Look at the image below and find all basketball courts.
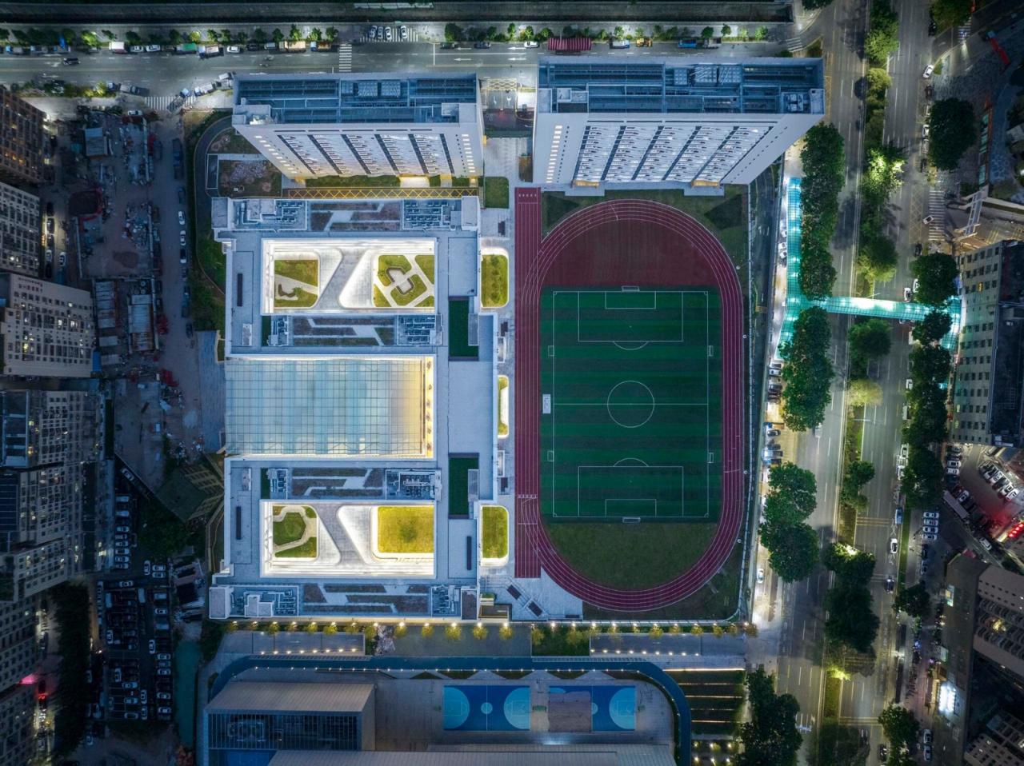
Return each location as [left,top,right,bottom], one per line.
[443,685,530,731]
[548,685,635,731]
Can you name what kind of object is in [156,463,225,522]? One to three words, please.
house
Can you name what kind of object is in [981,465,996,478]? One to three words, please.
vehicle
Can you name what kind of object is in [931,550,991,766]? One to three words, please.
building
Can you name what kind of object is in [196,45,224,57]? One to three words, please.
vehicle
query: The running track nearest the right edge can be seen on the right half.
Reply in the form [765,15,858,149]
[515,189,744,613]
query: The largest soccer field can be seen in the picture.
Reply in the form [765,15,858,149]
[541,286,722,522]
